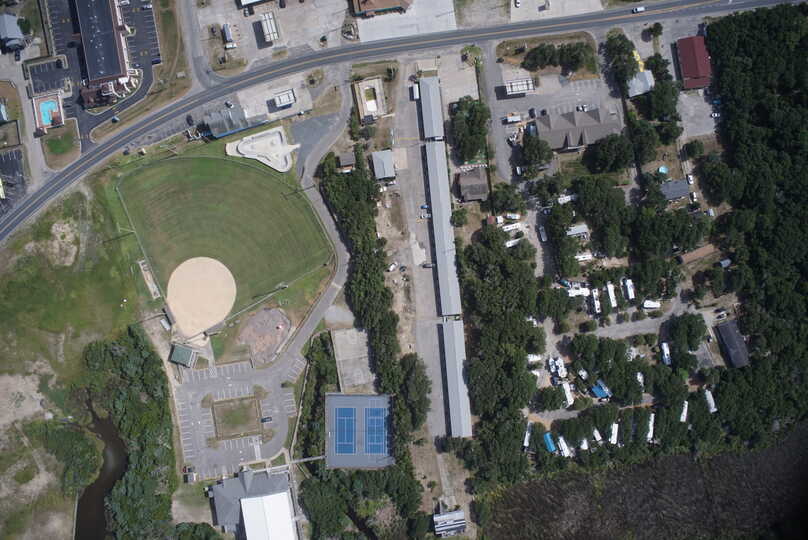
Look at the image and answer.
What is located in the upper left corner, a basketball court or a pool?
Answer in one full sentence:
It is a pool that can be seen in the upper left corner.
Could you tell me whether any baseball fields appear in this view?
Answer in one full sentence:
Yes, there's a baseball field here.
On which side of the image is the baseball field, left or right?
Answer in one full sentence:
The baseball field is on the left side of the image.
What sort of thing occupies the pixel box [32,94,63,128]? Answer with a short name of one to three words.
swimming pool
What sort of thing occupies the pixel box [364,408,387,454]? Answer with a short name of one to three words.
tennis court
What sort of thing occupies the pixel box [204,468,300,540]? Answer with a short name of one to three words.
building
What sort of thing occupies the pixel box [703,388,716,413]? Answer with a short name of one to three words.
vehicle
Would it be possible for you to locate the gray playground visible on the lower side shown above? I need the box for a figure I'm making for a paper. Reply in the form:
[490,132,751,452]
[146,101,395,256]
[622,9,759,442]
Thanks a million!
[238,309,290,362]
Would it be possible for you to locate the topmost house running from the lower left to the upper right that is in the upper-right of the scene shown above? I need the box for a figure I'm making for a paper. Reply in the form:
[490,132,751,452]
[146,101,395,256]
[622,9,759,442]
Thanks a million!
[626,71,654,98]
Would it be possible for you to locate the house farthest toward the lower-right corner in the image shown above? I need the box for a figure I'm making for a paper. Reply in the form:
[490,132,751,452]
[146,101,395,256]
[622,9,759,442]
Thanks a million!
[714,320,750,369]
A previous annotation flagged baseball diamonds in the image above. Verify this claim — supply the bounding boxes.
[118,156,335,346]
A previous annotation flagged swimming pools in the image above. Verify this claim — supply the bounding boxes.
[659,164,669,174]
[32,94,63,128]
